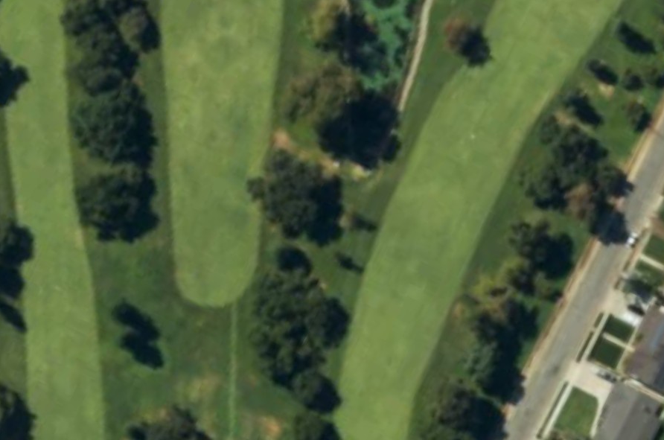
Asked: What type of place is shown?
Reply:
golf course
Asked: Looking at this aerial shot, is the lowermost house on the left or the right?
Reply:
right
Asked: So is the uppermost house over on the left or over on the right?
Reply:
right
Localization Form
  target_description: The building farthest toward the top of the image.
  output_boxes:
[620,306,664,393]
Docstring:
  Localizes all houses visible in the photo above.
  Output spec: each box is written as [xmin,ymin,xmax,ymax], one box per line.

[620,306,664,393]
[590,382,663,440]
